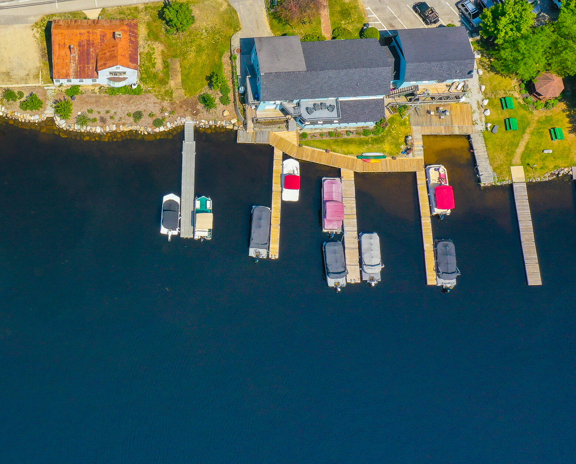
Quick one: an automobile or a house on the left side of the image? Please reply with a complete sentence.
Visible on the left side of the image is a house.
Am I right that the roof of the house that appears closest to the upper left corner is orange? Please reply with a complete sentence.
Yes, orange is the color of the roof of the house that appears closest to the upper left corner.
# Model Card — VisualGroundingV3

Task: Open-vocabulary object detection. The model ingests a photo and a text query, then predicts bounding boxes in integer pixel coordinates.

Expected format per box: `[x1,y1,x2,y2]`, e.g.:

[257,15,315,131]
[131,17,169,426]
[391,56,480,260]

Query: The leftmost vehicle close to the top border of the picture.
[409,0,437,25]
